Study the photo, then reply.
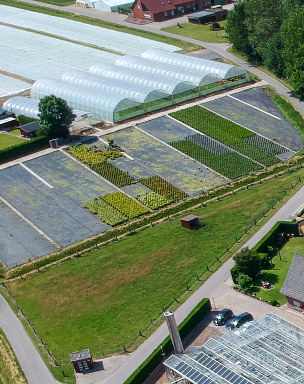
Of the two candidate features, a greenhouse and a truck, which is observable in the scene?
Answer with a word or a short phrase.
greenhouse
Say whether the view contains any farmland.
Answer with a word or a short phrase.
Yes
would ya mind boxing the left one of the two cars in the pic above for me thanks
[212,308,234,325]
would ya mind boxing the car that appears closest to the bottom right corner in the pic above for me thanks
[227,312,250,327]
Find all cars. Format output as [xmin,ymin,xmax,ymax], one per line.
[212,308,234,325]
[227,312,250,327]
